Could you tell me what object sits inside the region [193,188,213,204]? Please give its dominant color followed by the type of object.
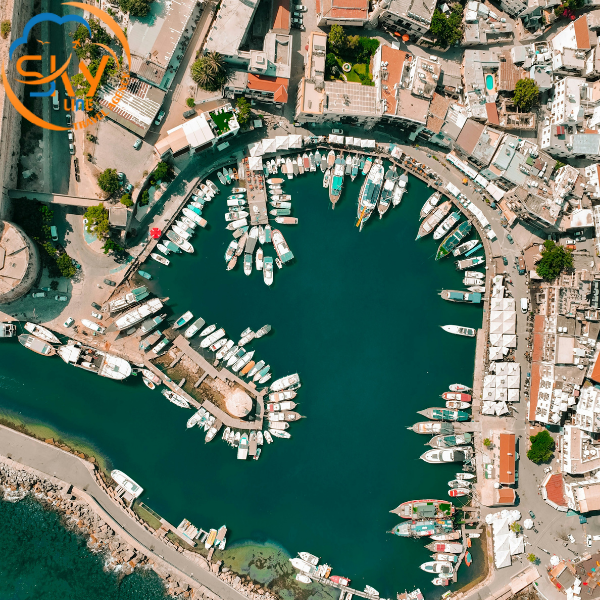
white boat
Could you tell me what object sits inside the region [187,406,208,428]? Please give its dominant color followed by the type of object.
white boat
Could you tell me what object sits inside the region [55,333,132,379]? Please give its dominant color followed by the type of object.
white ship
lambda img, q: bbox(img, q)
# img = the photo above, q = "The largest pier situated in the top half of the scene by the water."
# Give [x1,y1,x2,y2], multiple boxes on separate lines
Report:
[247,156,268,226]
